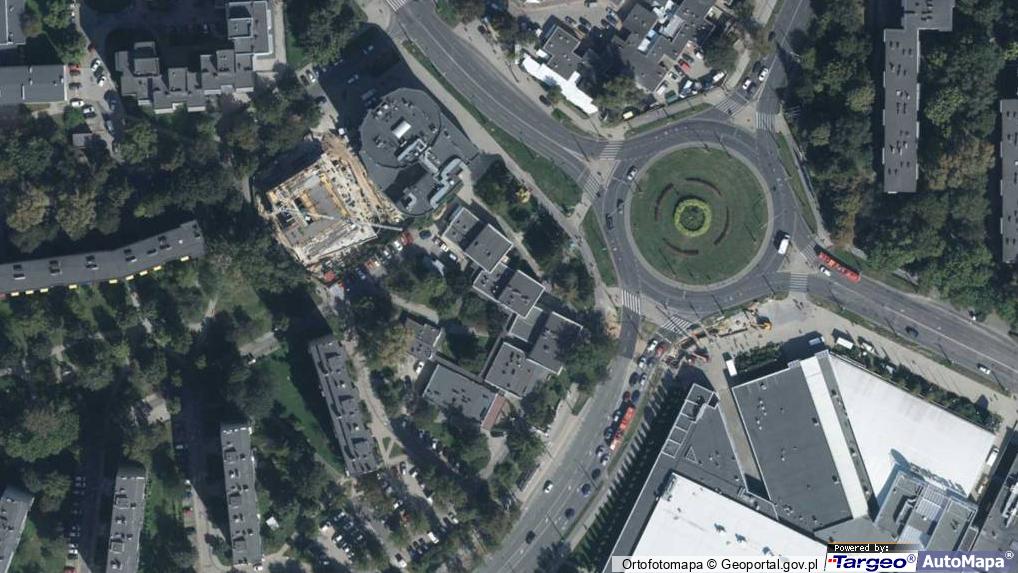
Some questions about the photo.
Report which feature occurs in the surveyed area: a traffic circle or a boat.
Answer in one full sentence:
I can see a traffic circle in this picture.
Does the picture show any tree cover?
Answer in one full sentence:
Yes, there's tree cover in this view.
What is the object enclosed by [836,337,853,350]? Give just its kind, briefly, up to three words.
vehicle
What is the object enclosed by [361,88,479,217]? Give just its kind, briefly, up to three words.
building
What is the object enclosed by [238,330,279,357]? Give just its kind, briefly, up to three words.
shed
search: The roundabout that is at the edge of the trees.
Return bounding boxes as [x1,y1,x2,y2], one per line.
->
[602,118,796,312]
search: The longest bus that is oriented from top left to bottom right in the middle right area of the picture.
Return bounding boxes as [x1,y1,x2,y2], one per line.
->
[818,252,861,283]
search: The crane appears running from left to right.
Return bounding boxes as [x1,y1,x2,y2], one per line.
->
[277,207,402,238]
